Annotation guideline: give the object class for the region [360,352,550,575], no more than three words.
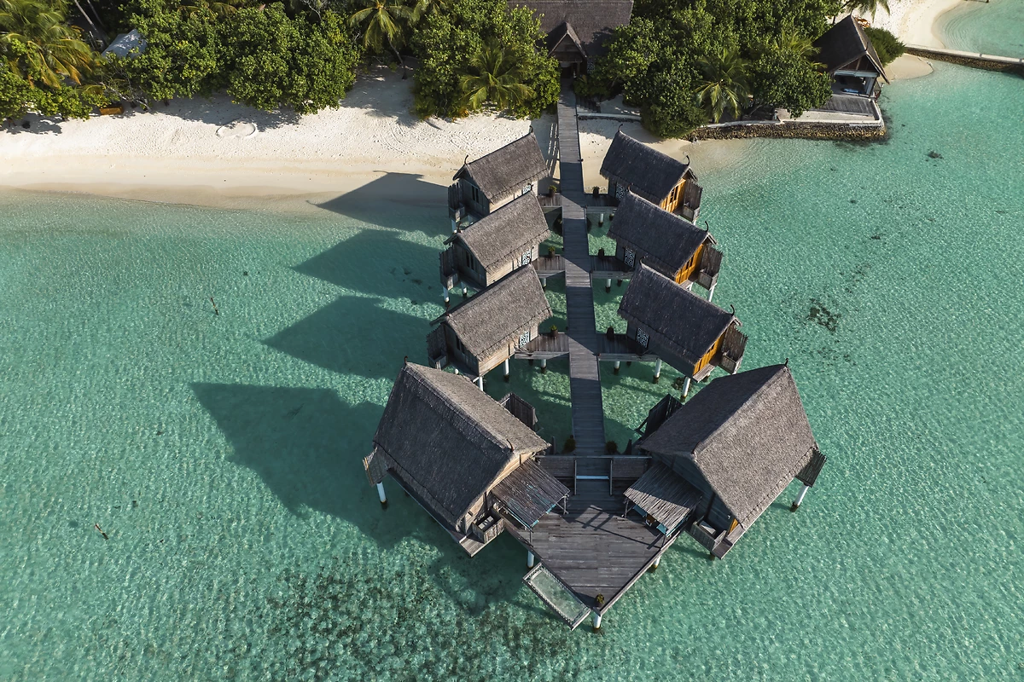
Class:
shed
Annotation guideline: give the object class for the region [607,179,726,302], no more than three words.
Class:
shed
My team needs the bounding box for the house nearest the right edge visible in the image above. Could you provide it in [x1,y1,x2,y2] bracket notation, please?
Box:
[813,10,887,97]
